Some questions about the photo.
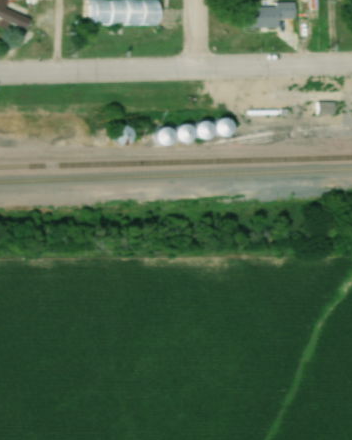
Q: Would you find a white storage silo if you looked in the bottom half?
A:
No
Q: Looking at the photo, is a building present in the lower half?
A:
No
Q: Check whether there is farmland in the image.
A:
Yes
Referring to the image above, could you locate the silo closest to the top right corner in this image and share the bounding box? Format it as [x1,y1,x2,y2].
[212,118,234,137]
